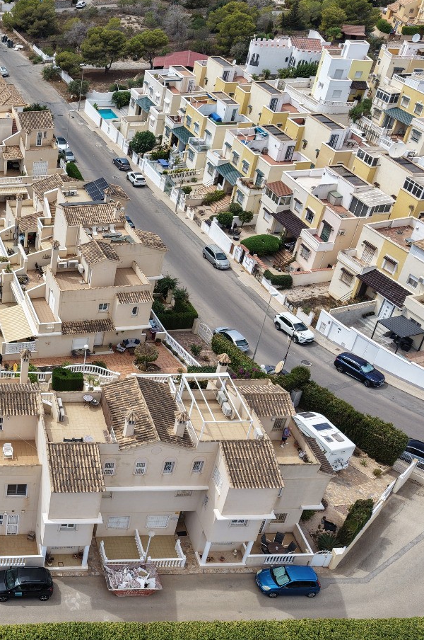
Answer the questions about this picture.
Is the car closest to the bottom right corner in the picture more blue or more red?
blue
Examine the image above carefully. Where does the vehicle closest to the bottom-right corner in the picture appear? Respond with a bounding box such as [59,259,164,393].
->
[258,567,328,601]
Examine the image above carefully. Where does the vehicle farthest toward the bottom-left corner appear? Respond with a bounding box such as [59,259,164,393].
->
[0,568,56,606]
